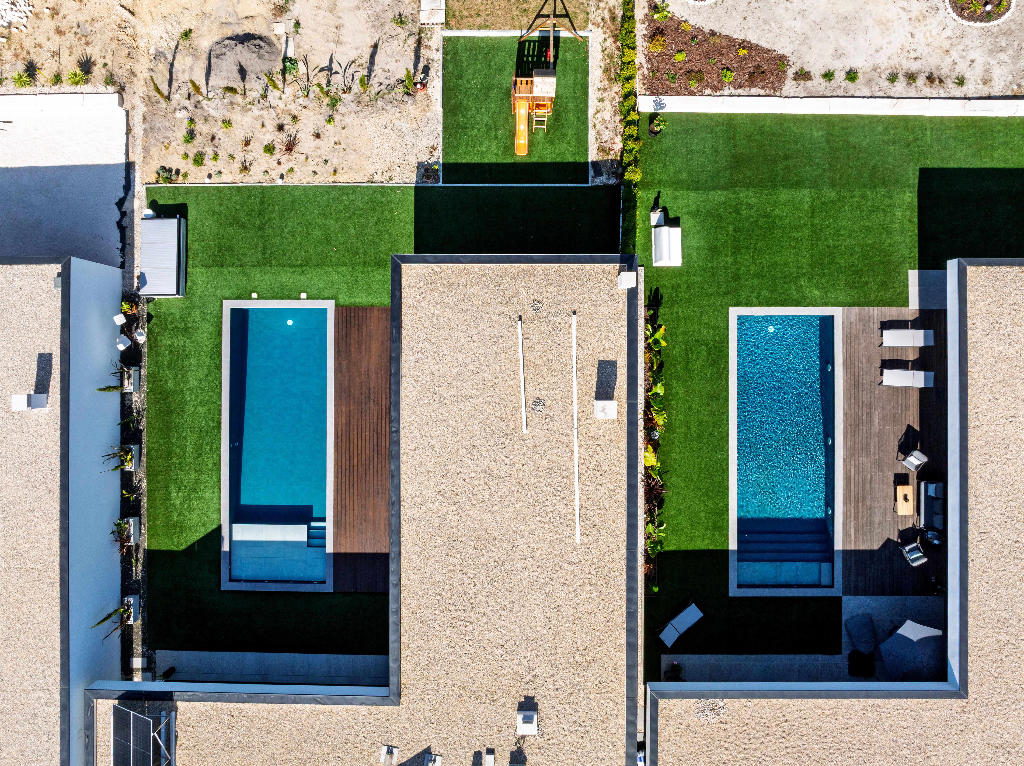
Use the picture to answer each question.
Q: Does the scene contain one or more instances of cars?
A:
No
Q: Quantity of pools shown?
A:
2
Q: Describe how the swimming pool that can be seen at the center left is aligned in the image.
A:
from top to bottom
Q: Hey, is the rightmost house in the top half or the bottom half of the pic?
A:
bottom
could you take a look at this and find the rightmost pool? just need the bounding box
[729,307,842,596]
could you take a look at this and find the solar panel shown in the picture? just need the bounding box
[111,704,174,766]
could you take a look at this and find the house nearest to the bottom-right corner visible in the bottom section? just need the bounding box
[643,259,1024,766]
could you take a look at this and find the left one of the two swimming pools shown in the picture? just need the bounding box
[222,300,334,591]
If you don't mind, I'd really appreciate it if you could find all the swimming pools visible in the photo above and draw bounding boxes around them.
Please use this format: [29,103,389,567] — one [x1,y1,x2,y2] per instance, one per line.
[729,307,842,596]
[222,300,334,591]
